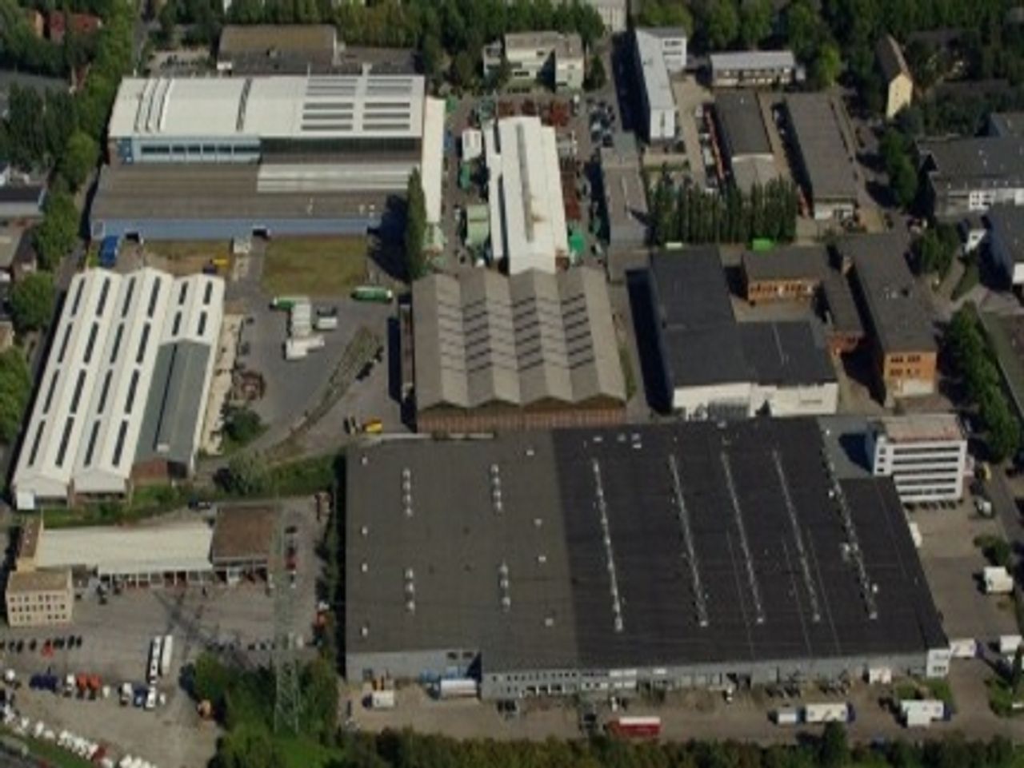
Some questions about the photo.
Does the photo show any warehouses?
Yes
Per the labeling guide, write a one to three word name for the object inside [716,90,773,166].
building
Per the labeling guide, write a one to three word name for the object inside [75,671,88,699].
vehicle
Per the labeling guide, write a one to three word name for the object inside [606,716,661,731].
vehicle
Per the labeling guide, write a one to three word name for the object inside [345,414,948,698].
warehouse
